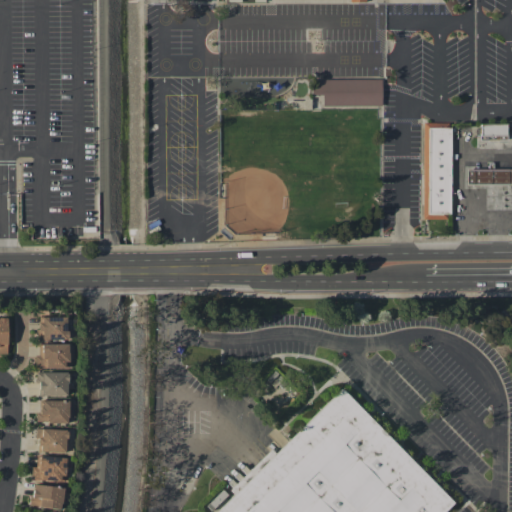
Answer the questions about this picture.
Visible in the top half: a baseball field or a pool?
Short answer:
baseball field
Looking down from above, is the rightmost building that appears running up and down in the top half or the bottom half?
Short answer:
top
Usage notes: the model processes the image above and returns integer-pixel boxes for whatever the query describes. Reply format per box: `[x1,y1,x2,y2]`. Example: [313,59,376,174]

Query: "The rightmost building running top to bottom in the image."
[425,122,454,220]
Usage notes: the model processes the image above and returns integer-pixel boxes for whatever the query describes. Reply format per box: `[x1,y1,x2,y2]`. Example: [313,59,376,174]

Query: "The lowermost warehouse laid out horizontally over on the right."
[215,394,458,512]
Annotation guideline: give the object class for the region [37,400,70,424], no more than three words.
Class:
house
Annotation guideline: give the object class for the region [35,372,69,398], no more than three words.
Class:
house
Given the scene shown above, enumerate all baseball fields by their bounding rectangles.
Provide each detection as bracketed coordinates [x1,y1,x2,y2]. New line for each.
[222,109,382,238]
